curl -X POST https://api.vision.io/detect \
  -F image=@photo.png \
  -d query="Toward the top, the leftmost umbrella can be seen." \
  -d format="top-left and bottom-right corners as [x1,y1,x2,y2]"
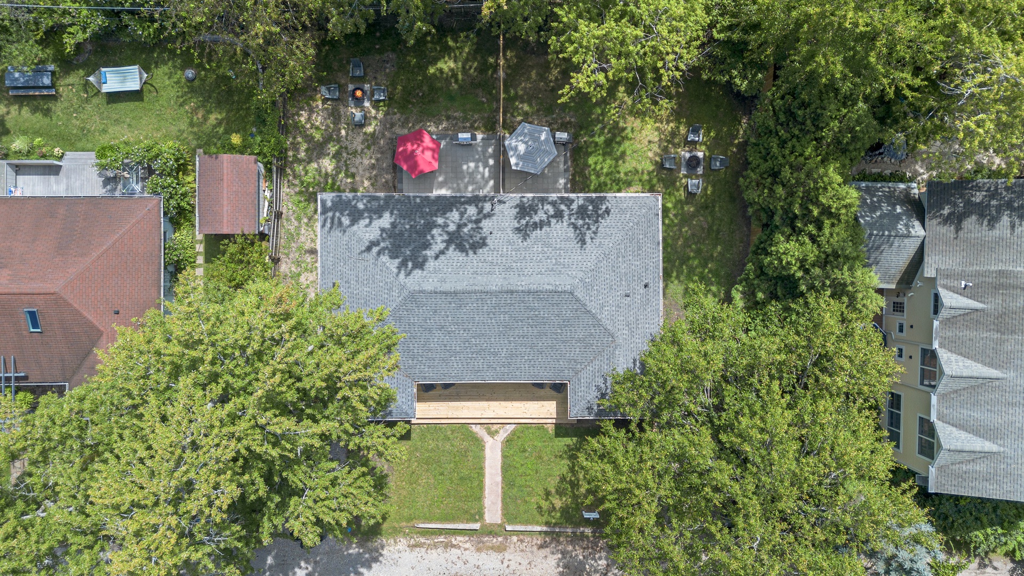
[394,129,442,179]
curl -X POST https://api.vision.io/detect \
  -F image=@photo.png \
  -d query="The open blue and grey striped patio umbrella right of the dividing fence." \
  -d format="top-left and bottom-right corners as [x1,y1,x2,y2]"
[505,124,557,175]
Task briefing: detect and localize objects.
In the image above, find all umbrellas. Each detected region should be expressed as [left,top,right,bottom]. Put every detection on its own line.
[505,124,557,175]
[394,129,442,179]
